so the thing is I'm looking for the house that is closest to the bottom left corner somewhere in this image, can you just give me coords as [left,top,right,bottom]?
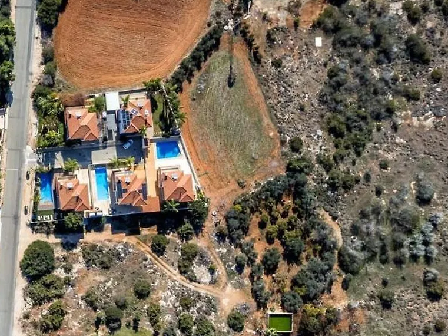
[56,174,90,211]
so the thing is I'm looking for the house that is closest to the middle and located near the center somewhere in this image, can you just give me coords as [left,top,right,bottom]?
[159,165,194,202]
